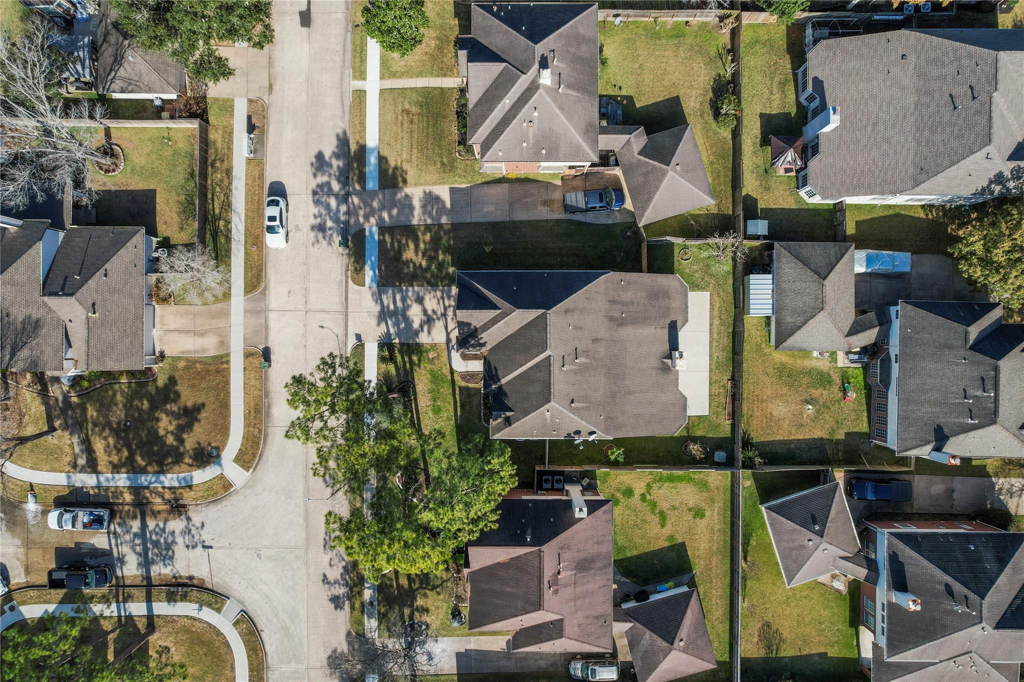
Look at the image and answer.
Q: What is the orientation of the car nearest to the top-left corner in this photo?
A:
vertically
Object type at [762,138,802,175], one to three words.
gazebo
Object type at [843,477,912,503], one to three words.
truck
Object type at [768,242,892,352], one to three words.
building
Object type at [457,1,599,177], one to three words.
house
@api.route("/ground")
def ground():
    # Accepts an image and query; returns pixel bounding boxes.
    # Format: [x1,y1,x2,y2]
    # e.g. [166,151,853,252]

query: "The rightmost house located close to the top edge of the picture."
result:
[795,28,1024,203]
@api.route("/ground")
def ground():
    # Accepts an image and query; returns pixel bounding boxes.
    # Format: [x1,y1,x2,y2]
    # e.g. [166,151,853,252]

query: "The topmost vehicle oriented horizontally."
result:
[560,186,625,214]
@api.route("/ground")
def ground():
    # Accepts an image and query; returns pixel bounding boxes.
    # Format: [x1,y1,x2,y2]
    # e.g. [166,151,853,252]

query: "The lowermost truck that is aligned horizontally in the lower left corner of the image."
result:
[46,563,116,592]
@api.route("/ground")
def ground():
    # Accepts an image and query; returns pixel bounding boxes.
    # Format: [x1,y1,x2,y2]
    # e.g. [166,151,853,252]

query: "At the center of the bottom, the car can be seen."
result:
[567,653,621,681]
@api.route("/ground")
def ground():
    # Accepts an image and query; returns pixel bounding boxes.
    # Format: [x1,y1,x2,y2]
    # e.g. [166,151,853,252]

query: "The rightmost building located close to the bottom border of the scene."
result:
[858,520,1024,682]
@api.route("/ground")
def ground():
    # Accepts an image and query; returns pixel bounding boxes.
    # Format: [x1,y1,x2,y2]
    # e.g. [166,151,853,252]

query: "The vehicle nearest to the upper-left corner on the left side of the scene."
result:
[263,195,290,250]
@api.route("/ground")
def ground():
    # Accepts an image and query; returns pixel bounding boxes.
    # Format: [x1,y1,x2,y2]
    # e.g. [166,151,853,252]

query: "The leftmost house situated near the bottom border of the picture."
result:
[465,477,614,653]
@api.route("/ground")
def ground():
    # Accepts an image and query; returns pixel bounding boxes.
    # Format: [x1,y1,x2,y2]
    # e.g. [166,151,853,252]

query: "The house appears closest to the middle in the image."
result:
[455,269,690,447]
